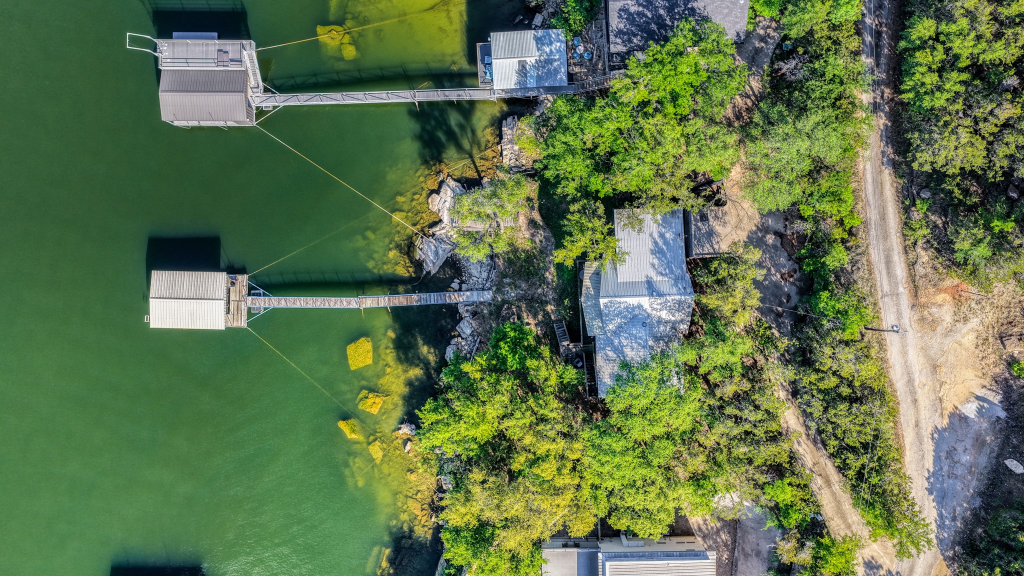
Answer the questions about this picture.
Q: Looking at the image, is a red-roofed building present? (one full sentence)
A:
No, no red-roofed building can be seen from above.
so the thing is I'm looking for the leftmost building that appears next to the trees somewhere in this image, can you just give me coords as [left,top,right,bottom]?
[478,29,567,93]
